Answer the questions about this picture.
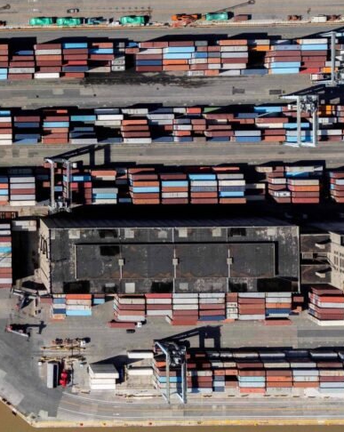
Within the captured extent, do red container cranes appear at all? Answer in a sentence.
No, I can't see a single red container crane in this photo.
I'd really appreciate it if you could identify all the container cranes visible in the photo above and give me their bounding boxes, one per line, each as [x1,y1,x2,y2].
[274,95,319,146]
[40,156,72,210]
[306,33,344,86]
[149,341,188,405]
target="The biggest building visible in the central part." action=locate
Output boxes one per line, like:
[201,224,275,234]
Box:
[43,219,299,293]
